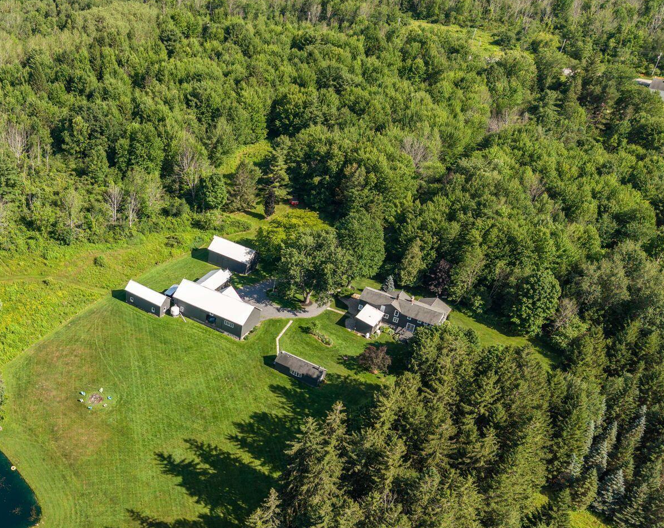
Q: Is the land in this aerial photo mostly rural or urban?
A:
rural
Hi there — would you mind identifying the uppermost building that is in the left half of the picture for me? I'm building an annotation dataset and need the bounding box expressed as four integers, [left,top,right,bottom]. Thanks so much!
[206,233,266,275]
